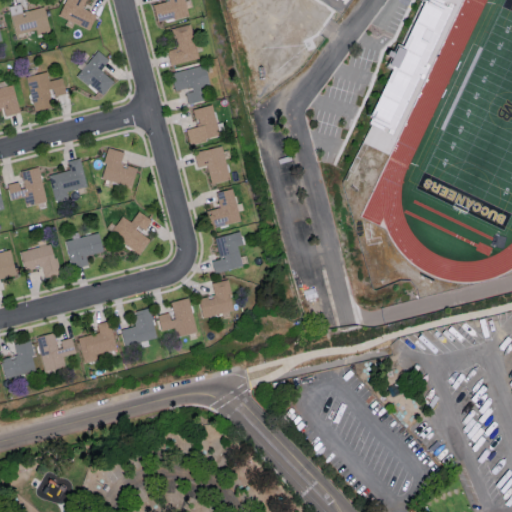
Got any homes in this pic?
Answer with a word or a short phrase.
Yes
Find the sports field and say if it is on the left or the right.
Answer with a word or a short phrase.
right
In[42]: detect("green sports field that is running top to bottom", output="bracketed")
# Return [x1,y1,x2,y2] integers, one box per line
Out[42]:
[403,0,512,259]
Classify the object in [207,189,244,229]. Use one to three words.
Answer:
house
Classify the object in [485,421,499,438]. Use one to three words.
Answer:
camper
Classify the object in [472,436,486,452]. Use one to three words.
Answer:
camper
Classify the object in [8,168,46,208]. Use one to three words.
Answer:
house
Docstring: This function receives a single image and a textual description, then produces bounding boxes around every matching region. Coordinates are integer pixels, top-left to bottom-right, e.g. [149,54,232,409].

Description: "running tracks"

[360,0,512,281]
